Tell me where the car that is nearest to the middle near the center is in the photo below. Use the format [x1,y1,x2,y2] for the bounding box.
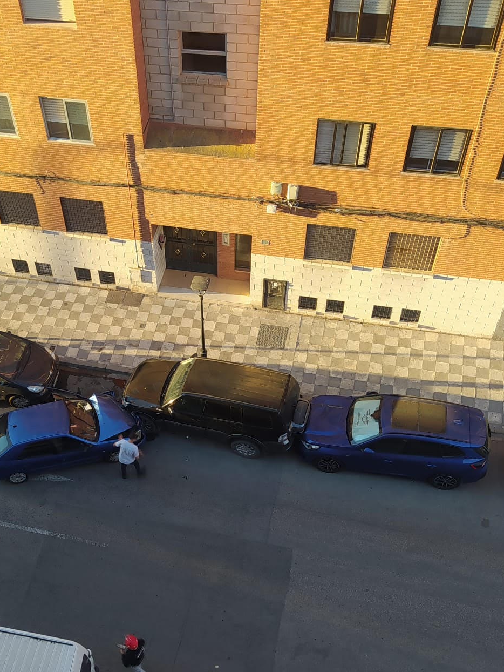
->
[122,350,314,454]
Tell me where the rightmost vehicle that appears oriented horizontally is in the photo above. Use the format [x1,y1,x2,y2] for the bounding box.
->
[297,381,492,489]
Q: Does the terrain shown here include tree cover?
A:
No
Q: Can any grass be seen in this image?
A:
No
